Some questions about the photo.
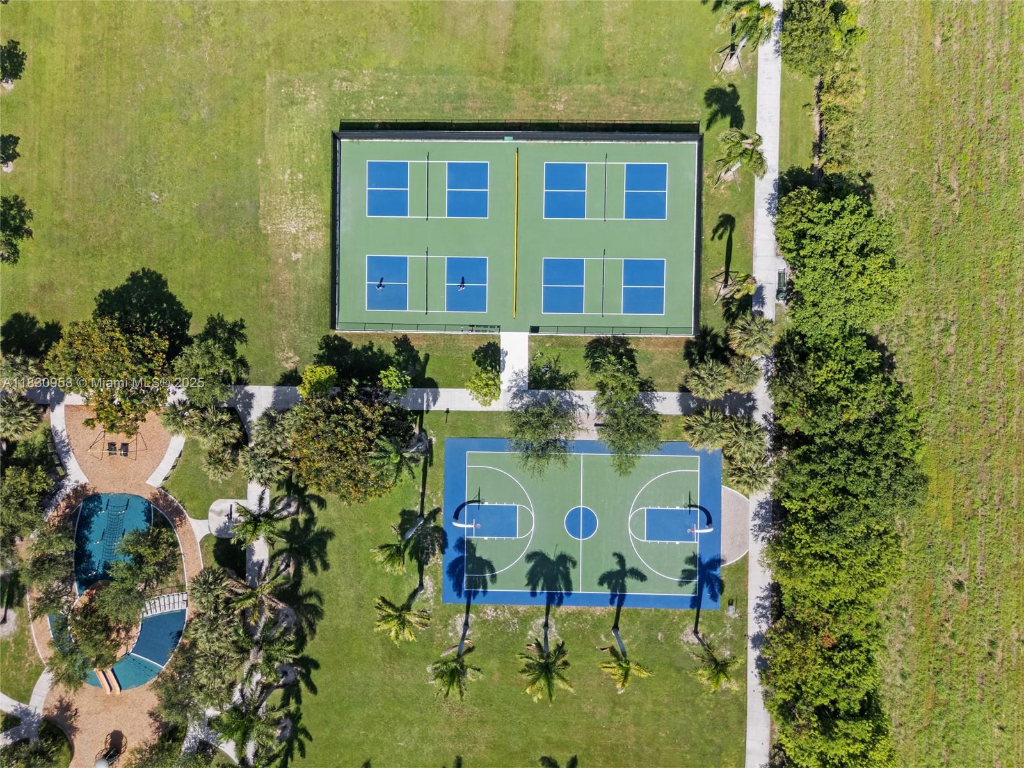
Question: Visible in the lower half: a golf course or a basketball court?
basketball court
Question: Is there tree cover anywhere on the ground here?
Yes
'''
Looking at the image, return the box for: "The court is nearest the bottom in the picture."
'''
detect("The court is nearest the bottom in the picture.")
[443,438,722,610]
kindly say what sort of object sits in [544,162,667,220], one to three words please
sports court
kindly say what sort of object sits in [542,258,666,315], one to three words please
sports court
